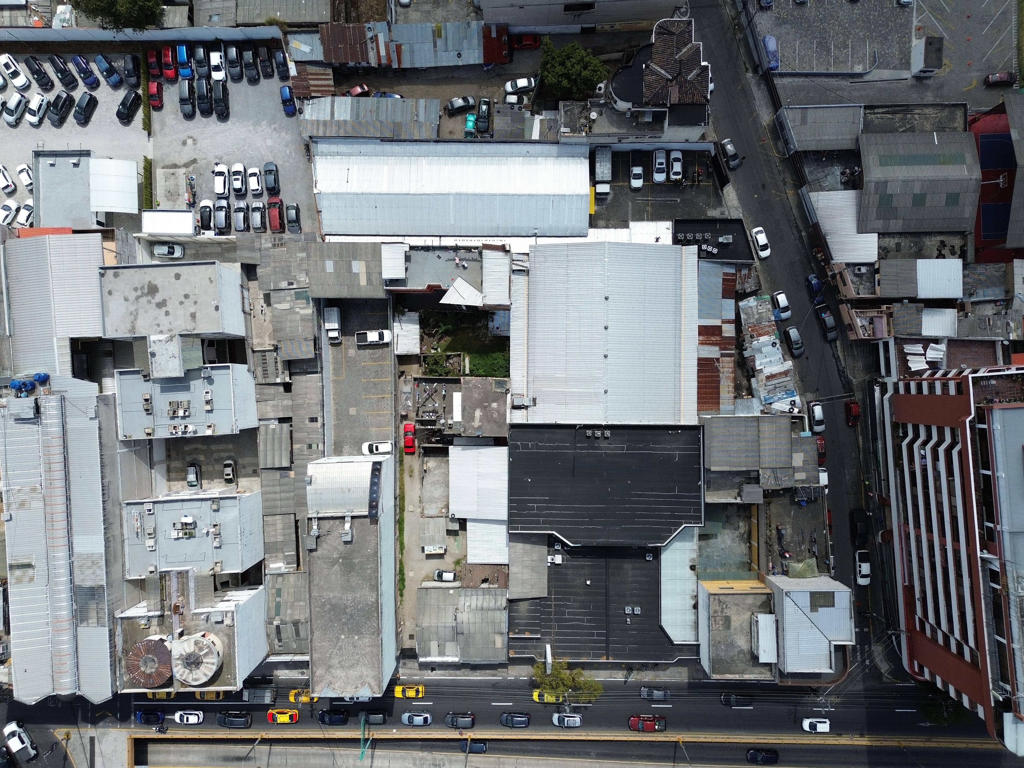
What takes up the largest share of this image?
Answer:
buildings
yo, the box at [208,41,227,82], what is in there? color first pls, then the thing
white vehicle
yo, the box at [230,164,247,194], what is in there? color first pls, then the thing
white car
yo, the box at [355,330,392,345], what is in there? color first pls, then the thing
white vehicle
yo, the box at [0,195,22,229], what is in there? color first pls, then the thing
white car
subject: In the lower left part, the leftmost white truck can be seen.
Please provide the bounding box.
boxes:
[7,724,34,761]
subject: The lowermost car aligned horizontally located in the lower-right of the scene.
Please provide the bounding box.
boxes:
[747,748,779,764]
